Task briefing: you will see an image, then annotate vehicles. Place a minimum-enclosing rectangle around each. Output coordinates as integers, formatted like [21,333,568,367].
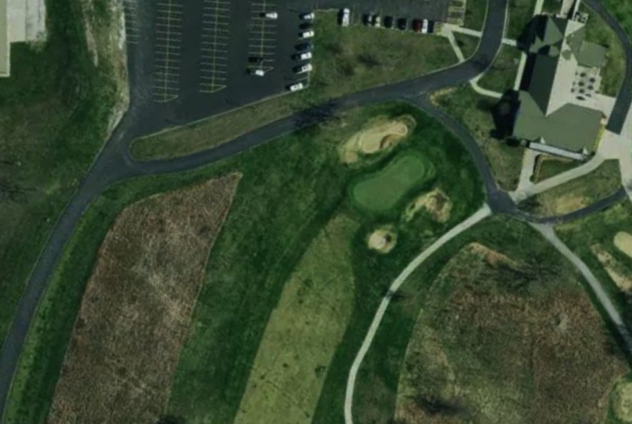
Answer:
[300,23,312,29]
[422,20,427,32]
[302,12,314,20]
[252,69,265,75]
[290,83,303,91]
[429,20,434,32]
[300,52,313,60]
[365,13,372,27]
[374,15,379,28]
[248,57,260,62]
[343,9,349,25]
[303,31,314,37]
[301,65,313,72]
[266,12,277,17]
[415,20,420,32]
